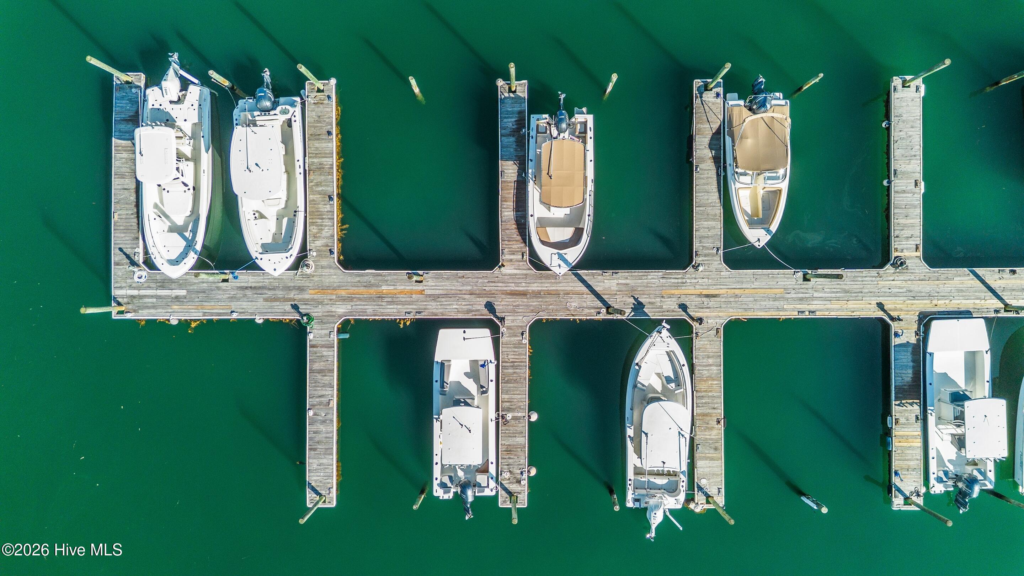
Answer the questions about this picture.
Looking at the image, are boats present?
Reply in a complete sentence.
Yes, there is a boat in the image.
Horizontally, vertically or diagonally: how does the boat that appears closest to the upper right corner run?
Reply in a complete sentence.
The boat that appears closest to the upper right corner runs vertically in the image.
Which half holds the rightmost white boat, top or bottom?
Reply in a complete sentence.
Seen from above, the rightmost white boat lies in the bottom half of the view.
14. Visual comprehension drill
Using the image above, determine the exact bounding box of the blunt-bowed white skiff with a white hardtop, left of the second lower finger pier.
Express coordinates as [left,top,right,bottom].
[433,328,496,521]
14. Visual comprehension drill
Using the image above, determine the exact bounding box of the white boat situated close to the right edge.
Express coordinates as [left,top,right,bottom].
[923,319,1011,516]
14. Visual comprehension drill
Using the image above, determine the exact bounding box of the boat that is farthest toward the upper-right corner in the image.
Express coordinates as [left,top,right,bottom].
[722,72,791,249]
